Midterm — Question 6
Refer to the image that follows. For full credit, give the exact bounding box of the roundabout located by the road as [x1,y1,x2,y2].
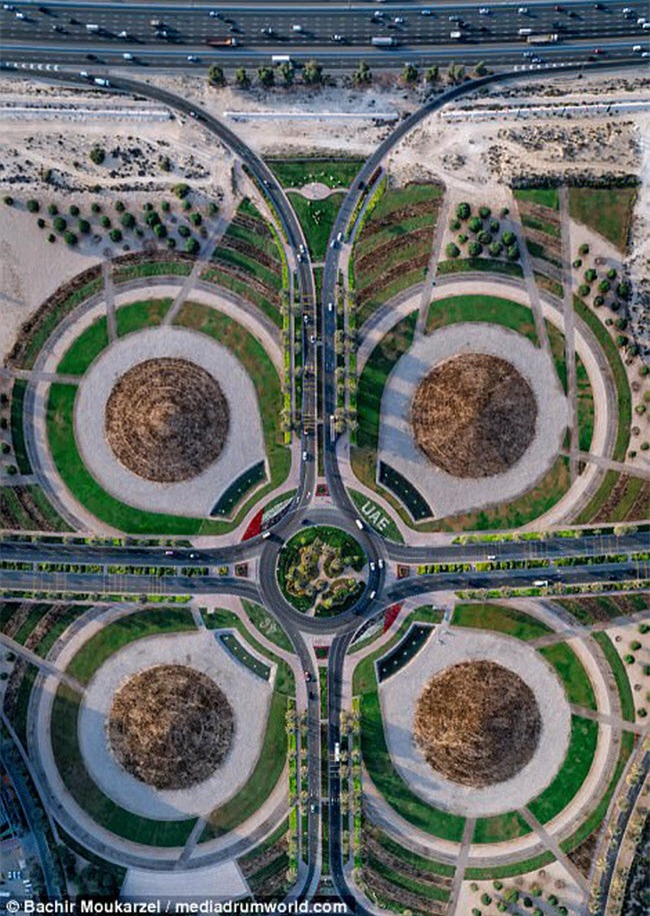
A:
[205,455,445,691]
